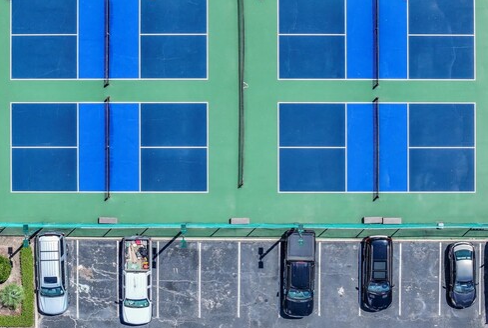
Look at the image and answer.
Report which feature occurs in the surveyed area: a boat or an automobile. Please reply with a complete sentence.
Visible in the photo is an automobile.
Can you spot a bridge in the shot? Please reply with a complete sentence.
No, the scene contains no bridge.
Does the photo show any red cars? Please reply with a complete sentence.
No, I can see no red car in this picture.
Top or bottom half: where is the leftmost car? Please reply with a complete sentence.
The leftmost car is in the bottom half of the image.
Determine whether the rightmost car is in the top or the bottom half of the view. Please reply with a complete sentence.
The bottom half of the photo is where the rightmost car is.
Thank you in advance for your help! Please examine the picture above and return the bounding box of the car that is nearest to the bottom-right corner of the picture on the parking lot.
[448,242,482,310]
